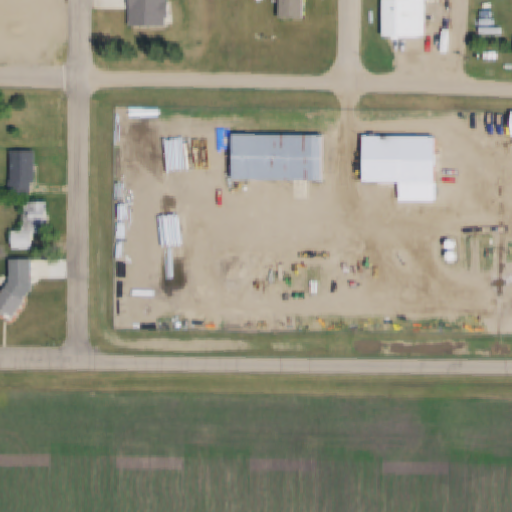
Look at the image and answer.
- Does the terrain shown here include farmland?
Yes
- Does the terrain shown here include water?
No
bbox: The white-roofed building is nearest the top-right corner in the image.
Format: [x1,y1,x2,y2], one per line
[382,0,426,37]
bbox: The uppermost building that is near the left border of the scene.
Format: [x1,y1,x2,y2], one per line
[8,150,34,192]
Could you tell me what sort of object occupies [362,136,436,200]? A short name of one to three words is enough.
building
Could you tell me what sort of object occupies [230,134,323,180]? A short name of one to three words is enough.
building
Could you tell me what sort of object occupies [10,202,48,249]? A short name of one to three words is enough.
house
